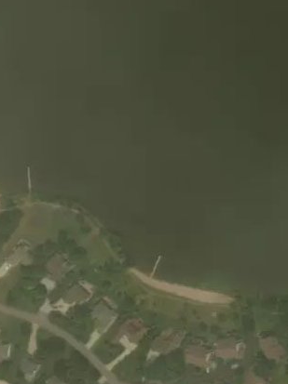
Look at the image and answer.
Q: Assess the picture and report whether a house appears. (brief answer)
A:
Yes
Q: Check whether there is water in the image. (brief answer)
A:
Yes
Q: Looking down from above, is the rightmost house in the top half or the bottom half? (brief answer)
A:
bottom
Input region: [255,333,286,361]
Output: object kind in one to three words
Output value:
house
